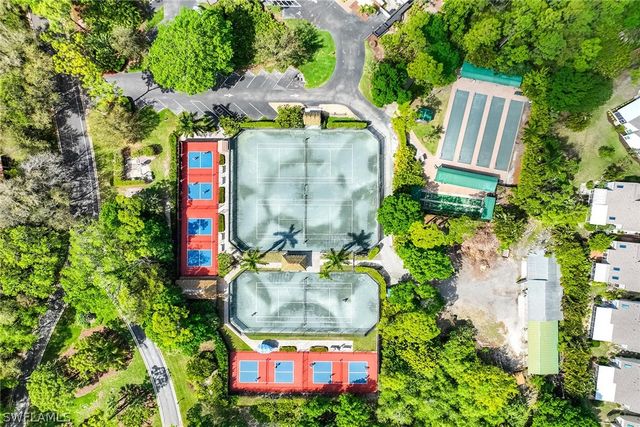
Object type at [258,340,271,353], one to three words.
umbrella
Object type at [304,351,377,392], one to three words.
sports court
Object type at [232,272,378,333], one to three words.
tennis court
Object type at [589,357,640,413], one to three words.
house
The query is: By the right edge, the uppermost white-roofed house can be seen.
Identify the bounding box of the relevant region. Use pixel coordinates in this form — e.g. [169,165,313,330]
[607,94,640,154]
